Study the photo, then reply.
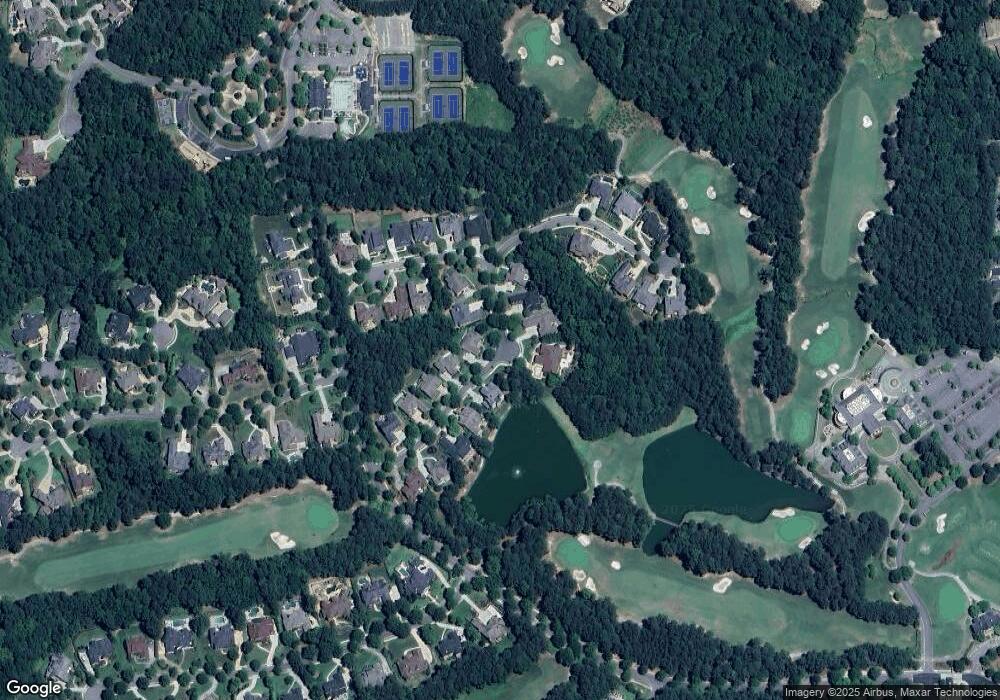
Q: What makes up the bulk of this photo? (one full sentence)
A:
The scene is dominated by trees.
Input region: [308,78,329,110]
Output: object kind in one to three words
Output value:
building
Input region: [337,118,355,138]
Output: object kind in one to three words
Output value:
swimming pool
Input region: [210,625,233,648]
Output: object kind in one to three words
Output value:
house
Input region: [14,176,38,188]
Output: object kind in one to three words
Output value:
swimming pool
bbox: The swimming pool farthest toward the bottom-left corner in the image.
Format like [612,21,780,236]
[163,615,193,629]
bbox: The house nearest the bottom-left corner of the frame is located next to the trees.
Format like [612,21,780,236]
[45,654,74,681]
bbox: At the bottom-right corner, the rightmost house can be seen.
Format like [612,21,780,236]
[967,608,1000,643]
